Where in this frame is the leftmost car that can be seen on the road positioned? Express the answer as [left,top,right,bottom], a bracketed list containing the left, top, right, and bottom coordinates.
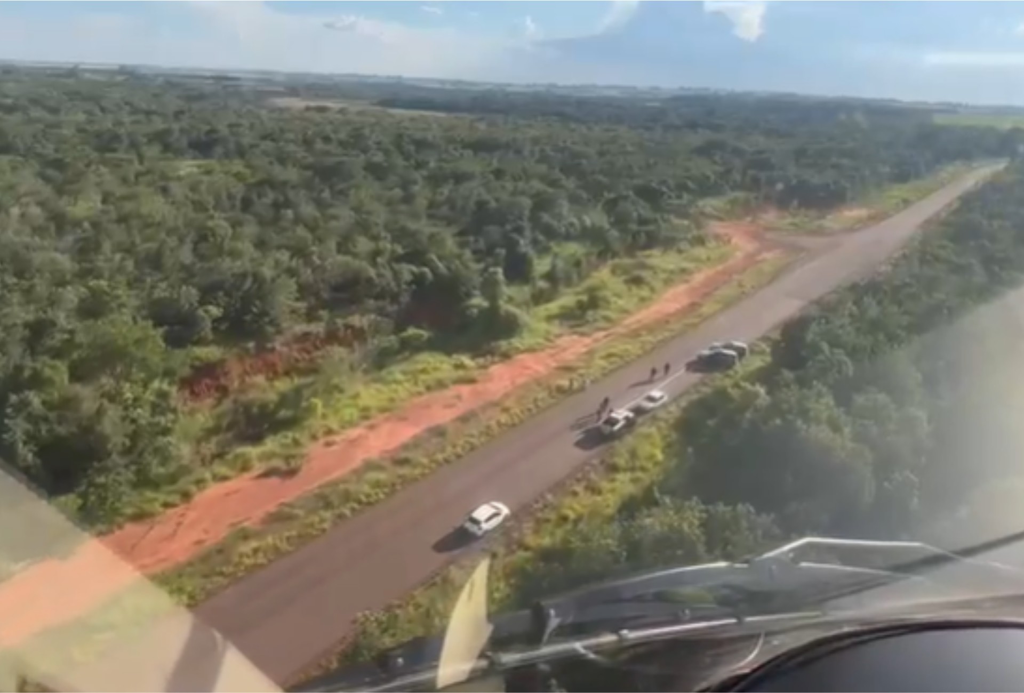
[462,500,512,534]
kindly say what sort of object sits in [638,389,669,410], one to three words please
car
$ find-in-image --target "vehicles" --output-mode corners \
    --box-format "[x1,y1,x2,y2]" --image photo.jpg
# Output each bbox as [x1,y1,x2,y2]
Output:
[597,404,639,434]
[709,340,753,357]
[638,389,669,410]
[462,500,512,534]
[695,348,740,369]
